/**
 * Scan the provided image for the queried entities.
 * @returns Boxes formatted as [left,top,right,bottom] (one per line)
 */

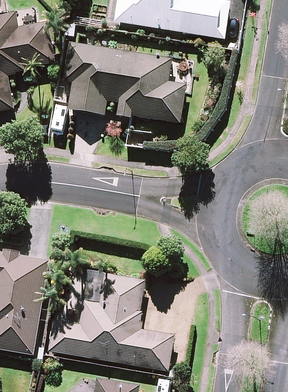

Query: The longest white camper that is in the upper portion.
[52,106,69,140]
